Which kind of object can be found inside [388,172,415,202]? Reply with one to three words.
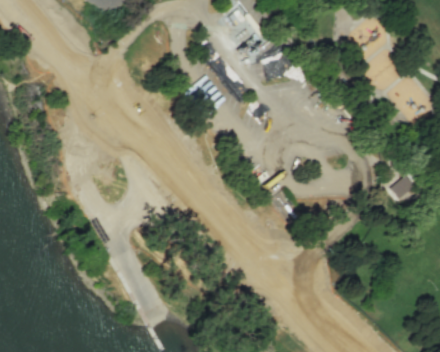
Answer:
building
